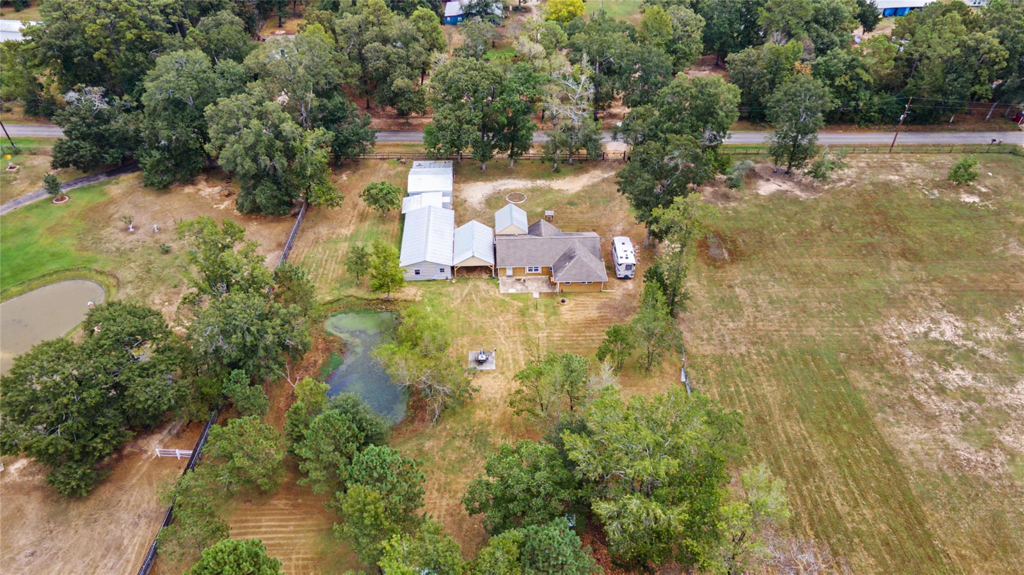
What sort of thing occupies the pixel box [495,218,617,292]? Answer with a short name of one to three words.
house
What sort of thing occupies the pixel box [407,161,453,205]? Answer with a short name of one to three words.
shed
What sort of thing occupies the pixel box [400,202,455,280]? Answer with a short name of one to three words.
barn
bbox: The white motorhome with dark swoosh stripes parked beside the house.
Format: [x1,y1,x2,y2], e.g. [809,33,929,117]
[612,239,635,281]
